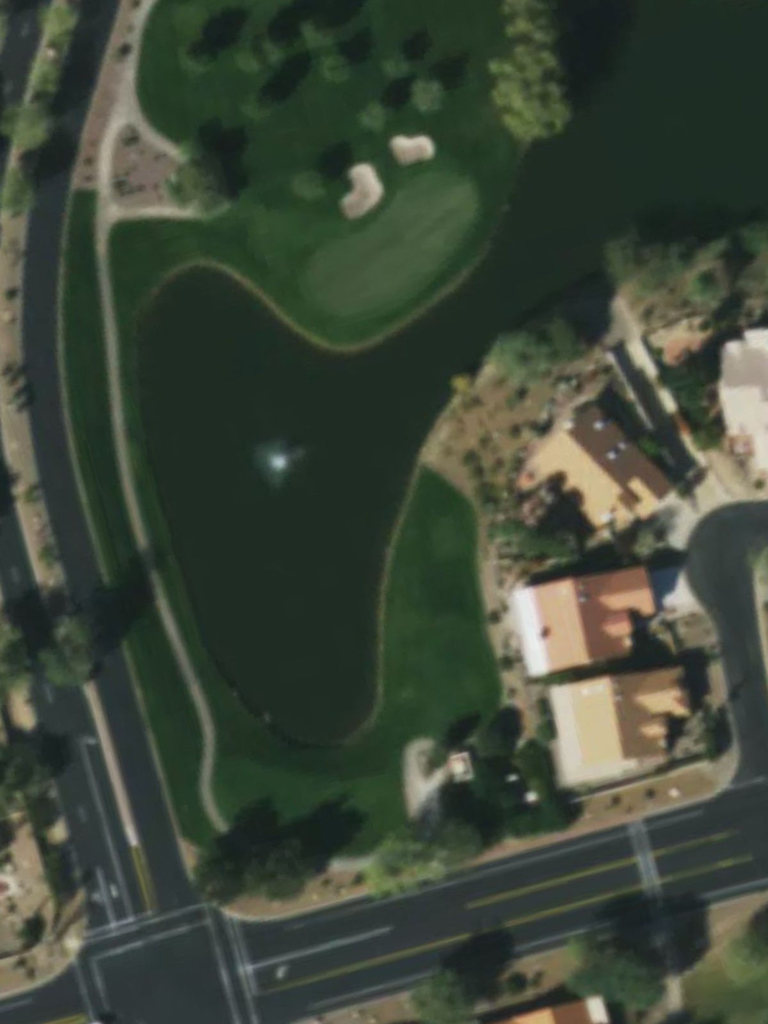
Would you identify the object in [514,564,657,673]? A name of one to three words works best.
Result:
house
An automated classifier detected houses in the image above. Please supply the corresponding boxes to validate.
[514,564,657,673]
[508,1000,608,1024]
[724,330,768,466]
[526,401,674,532]
[550,668,692,793]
